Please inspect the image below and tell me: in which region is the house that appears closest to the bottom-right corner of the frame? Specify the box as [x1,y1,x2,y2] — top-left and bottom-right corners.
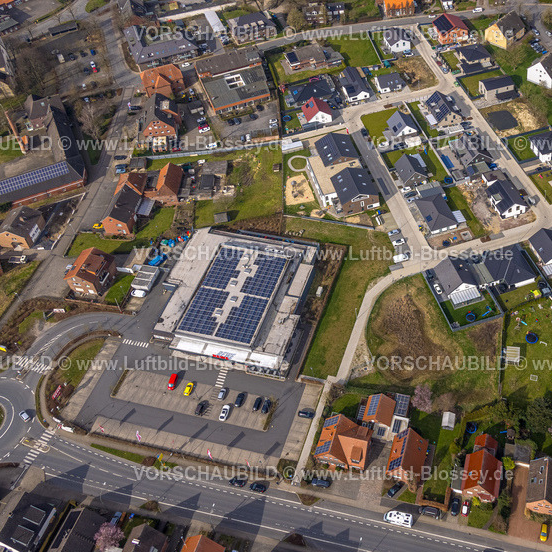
[527,458,552,518]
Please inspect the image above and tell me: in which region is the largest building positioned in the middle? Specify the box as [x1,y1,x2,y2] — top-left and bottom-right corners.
[152,226,319,370]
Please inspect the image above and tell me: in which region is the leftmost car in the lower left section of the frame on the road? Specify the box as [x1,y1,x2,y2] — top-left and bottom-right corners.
[18,409,31,423]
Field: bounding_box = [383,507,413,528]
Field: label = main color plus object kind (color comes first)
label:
white camper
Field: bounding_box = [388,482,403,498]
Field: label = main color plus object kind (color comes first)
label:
black car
